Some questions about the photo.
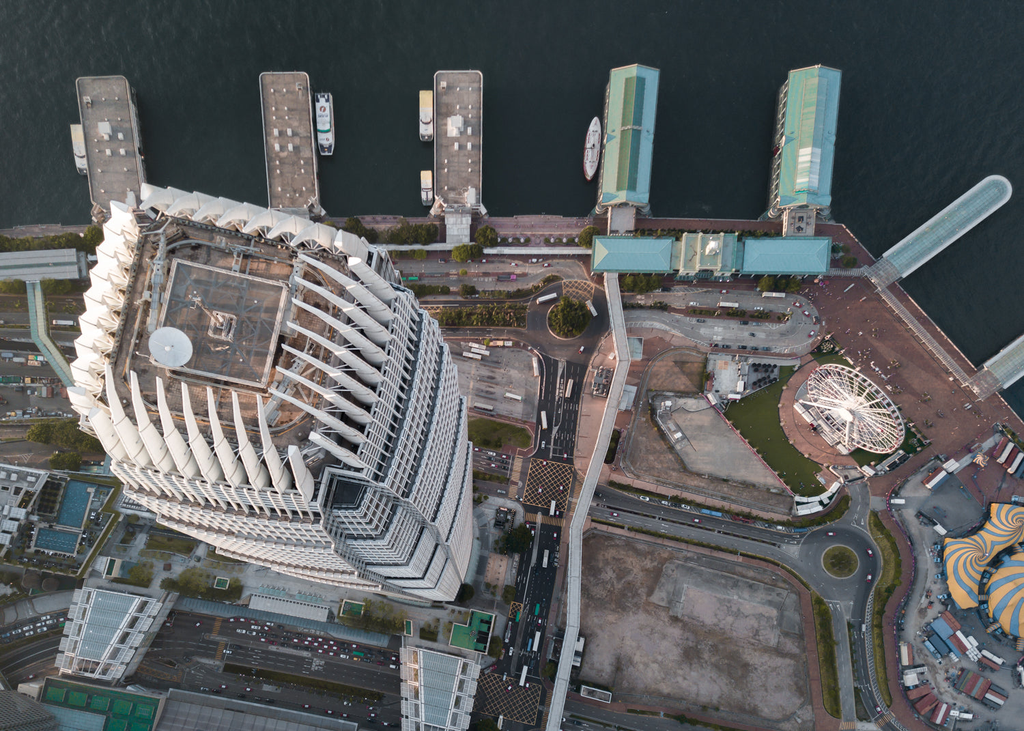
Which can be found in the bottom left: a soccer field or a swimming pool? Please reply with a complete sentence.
Looking in the bottom left, you will find a swimming pool.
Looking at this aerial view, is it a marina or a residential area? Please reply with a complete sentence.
It's a marina.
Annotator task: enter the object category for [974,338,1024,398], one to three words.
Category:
pier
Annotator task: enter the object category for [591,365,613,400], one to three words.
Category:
building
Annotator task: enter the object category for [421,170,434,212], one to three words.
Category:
vessel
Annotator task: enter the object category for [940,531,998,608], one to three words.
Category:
tent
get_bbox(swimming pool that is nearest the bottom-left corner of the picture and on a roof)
[32,527,82,555]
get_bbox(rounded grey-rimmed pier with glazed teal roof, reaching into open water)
[875,175,1013,284]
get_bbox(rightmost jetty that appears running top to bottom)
[761,64,842,226]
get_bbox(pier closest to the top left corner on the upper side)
[77,75,151,227]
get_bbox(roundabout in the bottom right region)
[821,543,858,579]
